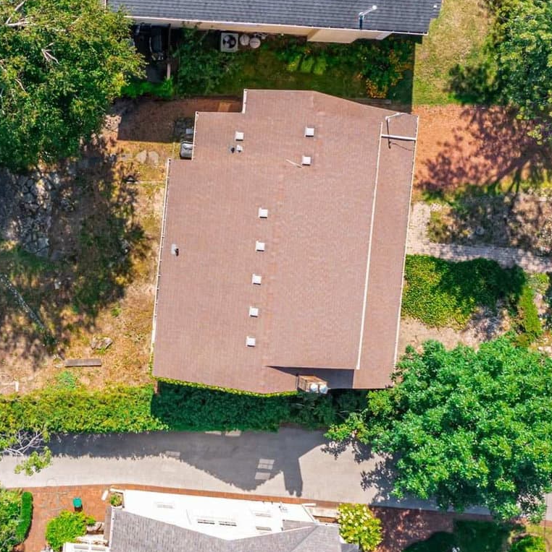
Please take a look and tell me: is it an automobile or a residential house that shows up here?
residential house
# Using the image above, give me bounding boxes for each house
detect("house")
[103,0,442,52]
[60,495,359,552]
[150,90,421,394]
